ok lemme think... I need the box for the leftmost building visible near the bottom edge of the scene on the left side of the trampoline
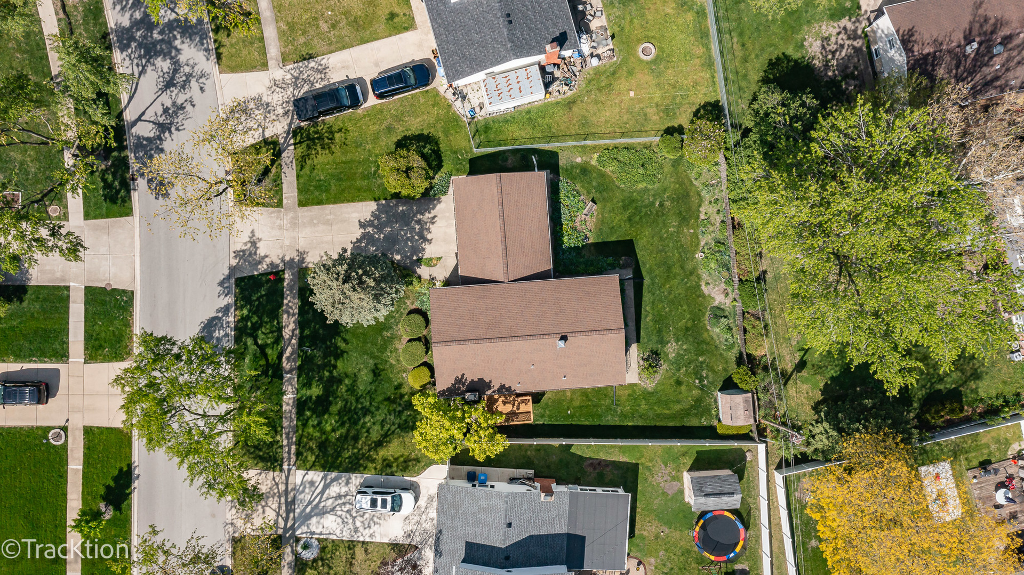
[432,471,631,575]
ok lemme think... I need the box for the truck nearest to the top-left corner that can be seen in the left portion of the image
[294,83,368,123]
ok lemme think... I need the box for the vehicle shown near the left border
[0,381,52,408]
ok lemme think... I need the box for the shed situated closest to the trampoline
[682,470,742,512]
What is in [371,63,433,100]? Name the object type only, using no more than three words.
car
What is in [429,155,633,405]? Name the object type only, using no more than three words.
house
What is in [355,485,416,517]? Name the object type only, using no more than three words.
car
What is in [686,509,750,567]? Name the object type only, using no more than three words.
trampoline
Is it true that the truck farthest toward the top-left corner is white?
No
